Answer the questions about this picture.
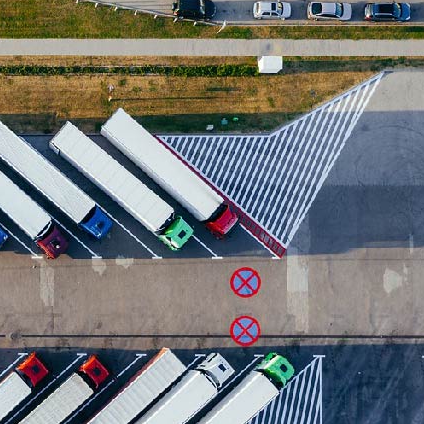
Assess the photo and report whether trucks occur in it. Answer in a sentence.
Yes, there's a truck down there.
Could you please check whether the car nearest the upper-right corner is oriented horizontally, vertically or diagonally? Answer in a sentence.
In this picture, the car nearest the upper-right corner lies horizontally.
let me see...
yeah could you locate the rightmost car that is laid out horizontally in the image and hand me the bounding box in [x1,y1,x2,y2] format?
[364,1,409,21]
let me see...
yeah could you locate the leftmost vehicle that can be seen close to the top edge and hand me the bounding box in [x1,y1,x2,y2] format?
[175,0,216,21]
